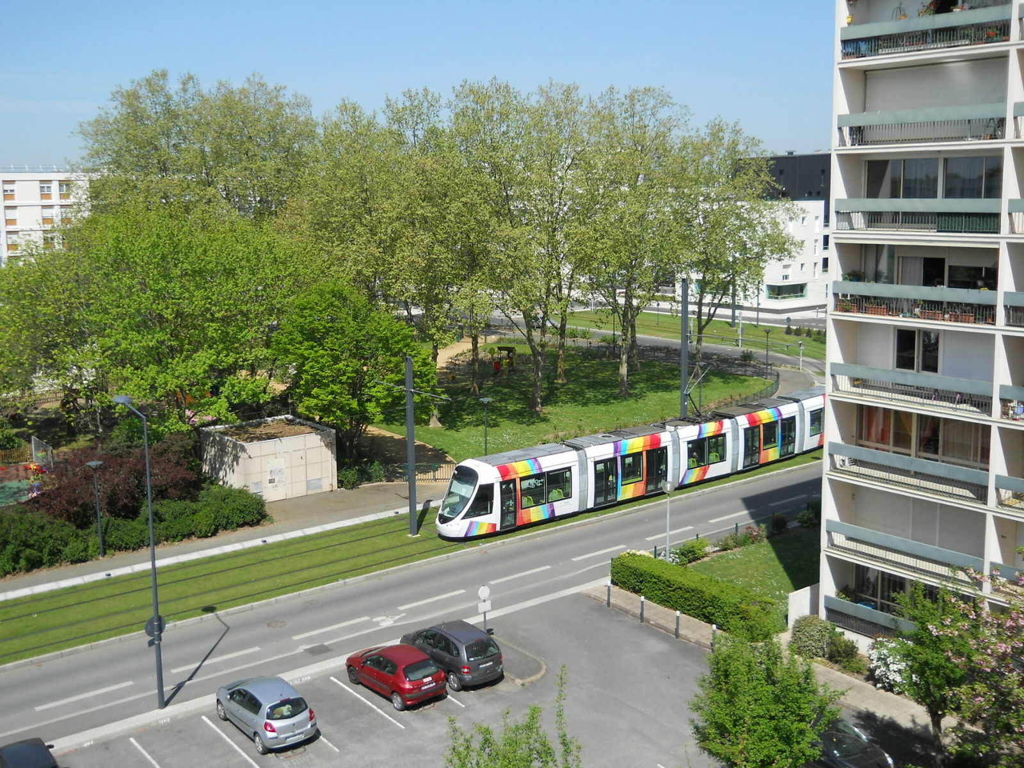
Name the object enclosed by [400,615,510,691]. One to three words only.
car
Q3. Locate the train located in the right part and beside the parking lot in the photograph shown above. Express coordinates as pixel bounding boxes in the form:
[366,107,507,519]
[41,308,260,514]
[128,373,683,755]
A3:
[430,365,826,543]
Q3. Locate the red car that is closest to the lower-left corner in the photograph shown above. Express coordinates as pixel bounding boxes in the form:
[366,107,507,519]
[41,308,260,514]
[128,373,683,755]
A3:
[350,641,453,710]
